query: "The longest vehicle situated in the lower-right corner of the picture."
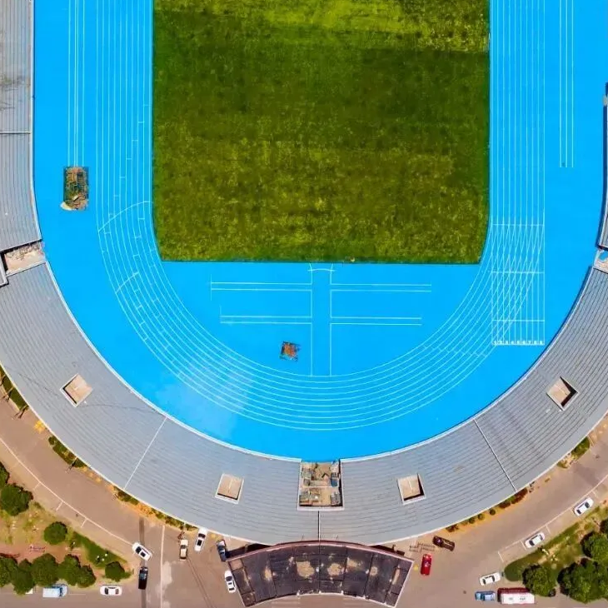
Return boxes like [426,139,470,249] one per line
[498,587,537,607]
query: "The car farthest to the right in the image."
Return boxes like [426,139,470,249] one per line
[572,496,594,515]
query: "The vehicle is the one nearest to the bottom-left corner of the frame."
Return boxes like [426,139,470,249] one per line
[41,585,69,602]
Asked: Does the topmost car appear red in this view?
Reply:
No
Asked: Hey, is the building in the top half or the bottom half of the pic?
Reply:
bottom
